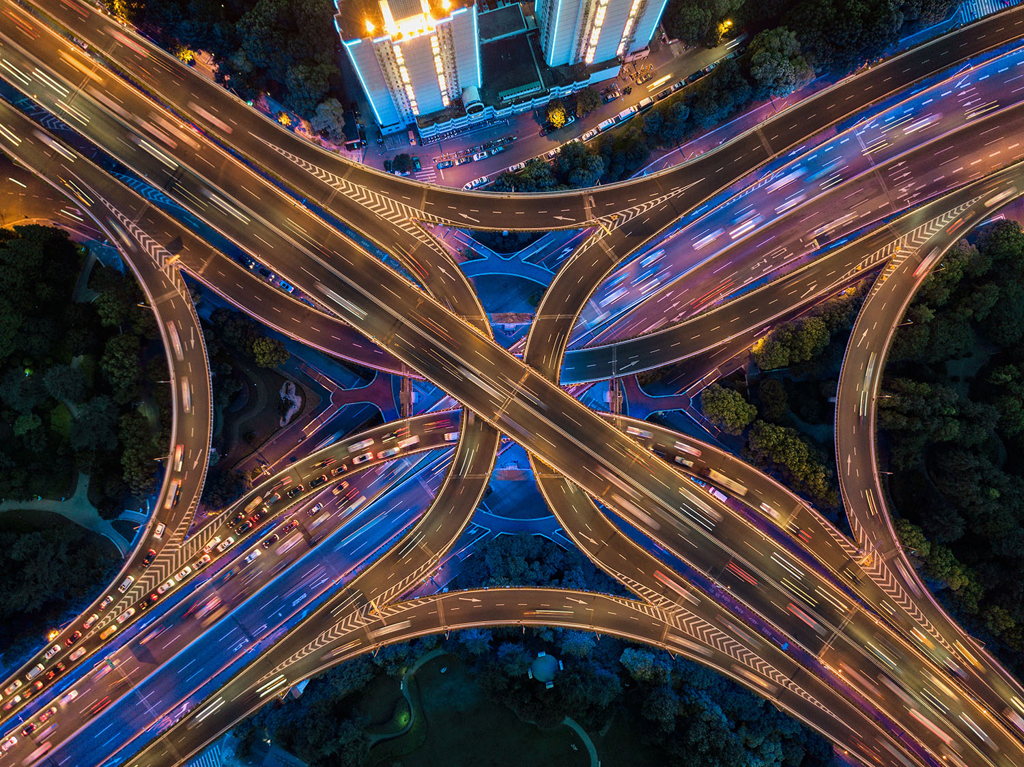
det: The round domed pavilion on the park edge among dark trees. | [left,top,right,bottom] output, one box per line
[531,651,558,681]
